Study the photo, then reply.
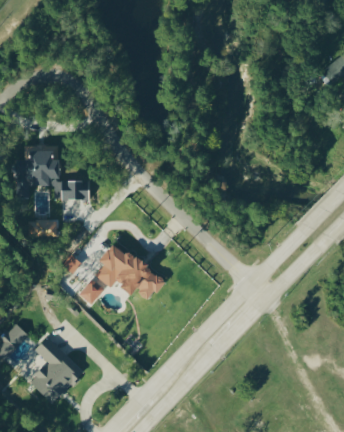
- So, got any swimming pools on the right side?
No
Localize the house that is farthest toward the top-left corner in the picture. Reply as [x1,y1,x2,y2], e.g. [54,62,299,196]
[28,150,62,193]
